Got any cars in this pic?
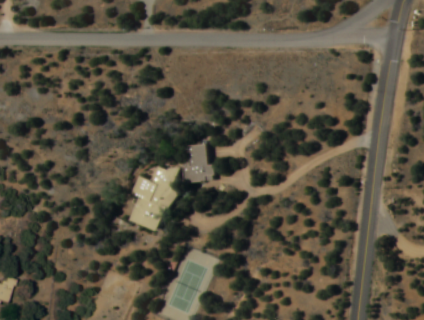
No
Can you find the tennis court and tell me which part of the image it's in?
bottom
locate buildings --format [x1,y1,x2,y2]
[184,144,214,182]
[129,166,180,232]
[0,279,18,304]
